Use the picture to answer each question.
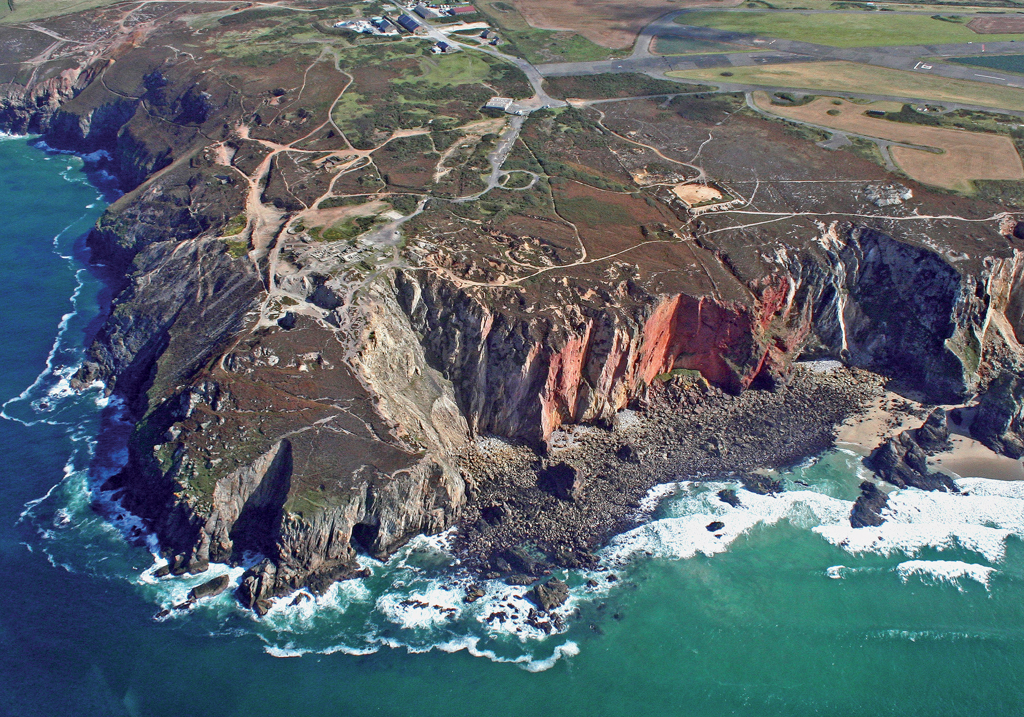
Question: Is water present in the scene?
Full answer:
Yes, there is water in the image.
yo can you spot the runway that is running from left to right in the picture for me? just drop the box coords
[534,7,1024,117]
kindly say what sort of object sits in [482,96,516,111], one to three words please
hangar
